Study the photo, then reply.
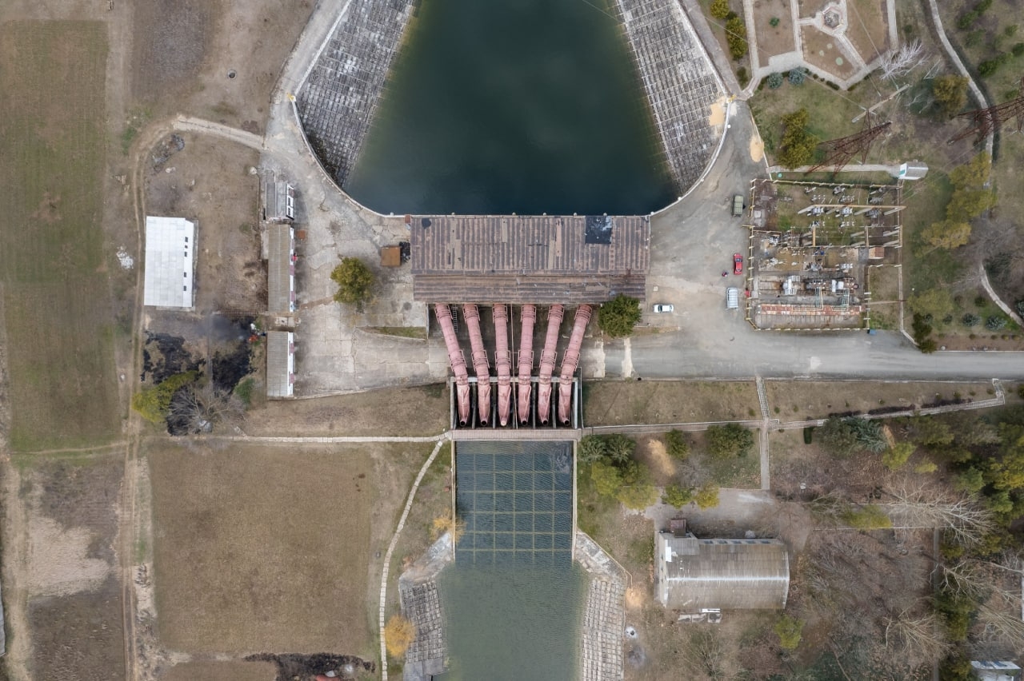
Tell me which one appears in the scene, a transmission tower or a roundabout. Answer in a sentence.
The one in the frame is a transmission tower.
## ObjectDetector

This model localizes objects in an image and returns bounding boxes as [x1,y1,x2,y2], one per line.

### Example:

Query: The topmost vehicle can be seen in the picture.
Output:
[731,195,744,217]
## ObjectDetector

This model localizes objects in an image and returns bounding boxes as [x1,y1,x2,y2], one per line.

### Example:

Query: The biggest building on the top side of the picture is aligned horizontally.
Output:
[411,216,650,304]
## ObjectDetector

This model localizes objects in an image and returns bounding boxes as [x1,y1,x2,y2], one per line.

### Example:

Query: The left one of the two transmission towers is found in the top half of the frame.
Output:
[806,101,891,177]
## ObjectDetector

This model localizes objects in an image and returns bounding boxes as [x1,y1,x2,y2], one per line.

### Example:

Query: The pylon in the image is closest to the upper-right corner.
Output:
[946,69,1024,148]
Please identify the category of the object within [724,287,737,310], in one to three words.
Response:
vehicle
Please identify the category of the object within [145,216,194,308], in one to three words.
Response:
shed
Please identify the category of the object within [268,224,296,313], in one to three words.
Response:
building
